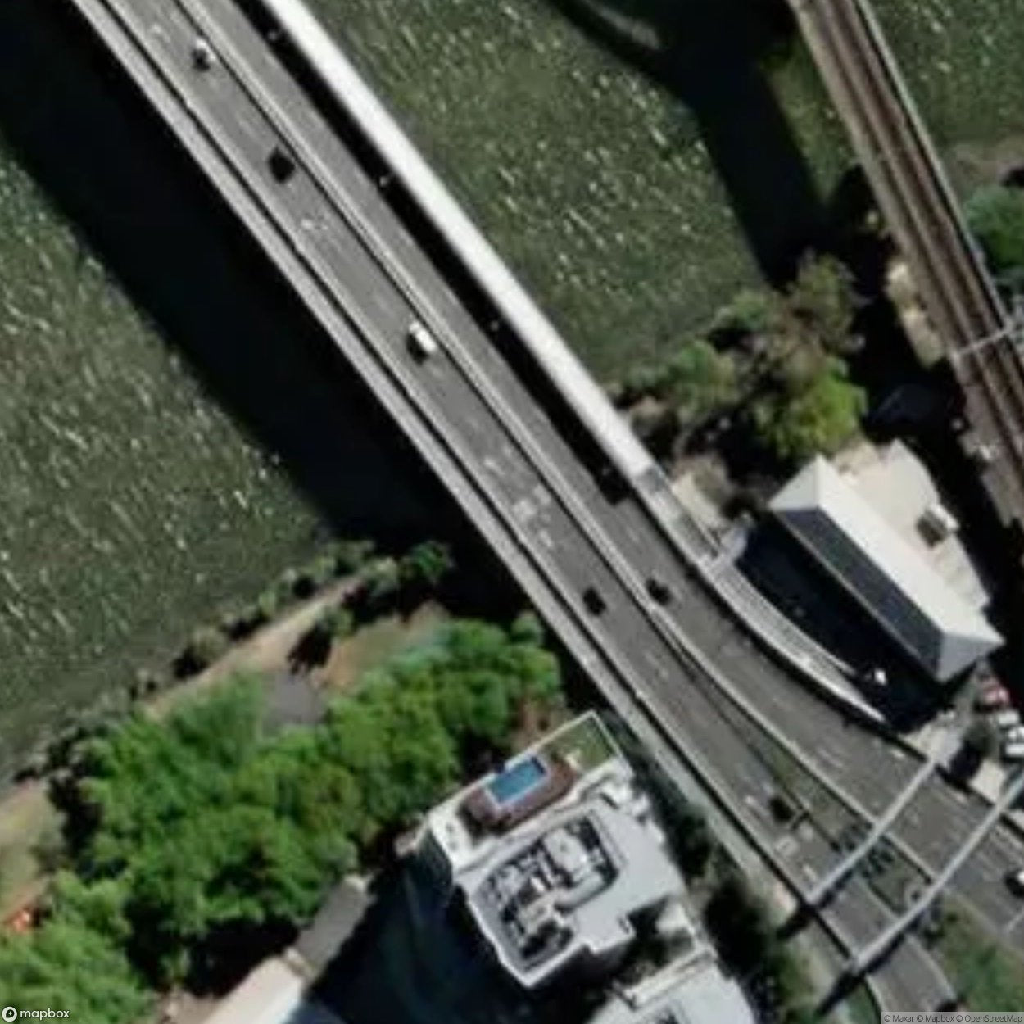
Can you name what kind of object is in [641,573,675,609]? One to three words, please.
car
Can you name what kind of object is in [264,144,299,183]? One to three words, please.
car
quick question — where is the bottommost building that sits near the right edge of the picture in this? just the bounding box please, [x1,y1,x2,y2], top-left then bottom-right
[767,441,1005,686]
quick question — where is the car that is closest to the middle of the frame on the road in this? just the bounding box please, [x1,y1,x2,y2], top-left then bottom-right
[577,581,612,620]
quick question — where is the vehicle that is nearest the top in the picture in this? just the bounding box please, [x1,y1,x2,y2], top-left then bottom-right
[187,35,220,71]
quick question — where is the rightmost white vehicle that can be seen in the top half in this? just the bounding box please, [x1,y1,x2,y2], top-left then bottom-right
[406,319,442,359]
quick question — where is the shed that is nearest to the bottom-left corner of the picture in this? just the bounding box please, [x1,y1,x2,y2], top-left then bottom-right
[201,945,320,1024]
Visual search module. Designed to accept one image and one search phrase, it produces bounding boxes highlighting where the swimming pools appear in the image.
[484,756,549,808]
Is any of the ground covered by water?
Yes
